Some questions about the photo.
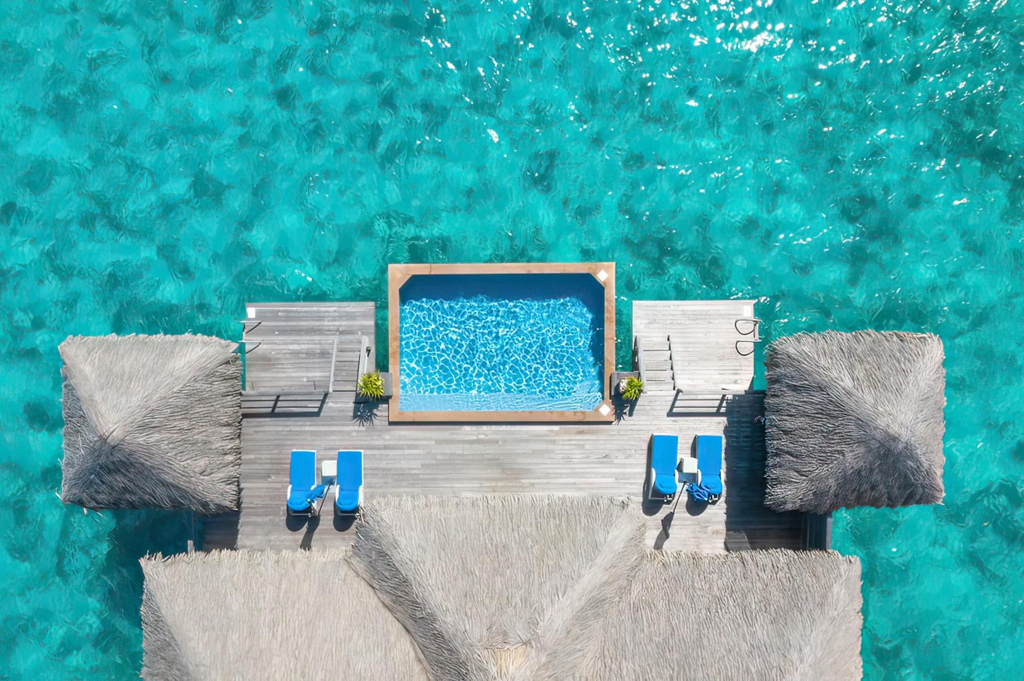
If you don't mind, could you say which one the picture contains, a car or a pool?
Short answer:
pool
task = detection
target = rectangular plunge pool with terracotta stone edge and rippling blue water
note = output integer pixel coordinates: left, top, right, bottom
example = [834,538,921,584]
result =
[388,263,615,421]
